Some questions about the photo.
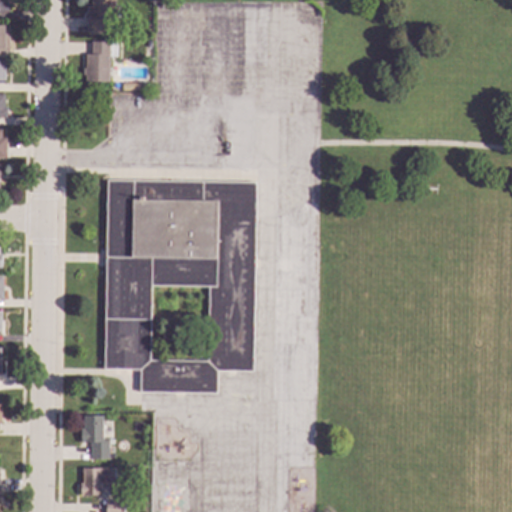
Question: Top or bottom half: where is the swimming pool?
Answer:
top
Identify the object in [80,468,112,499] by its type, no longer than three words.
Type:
house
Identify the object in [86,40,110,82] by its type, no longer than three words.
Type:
house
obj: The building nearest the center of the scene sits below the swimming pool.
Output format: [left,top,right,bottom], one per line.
[104,180,257,392]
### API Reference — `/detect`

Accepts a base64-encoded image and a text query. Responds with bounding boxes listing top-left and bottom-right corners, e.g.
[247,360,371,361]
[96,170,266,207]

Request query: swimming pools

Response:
[112,60,150,83]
